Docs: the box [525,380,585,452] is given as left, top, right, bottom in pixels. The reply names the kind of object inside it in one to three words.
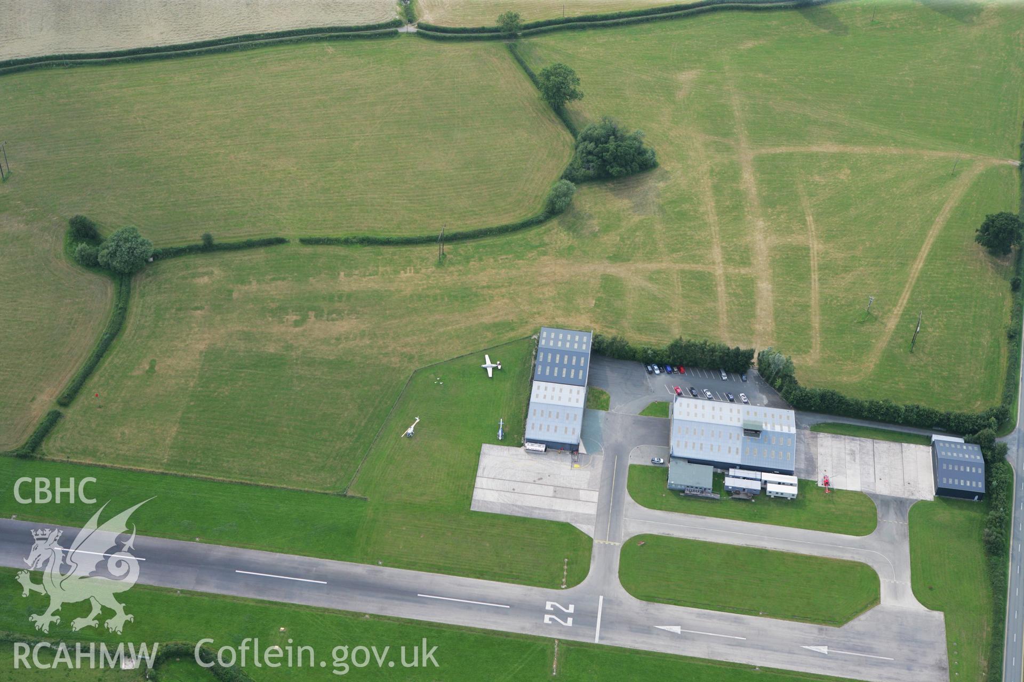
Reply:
hangar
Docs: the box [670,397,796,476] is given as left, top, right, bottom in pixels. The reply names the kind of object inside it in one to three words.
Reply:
hangar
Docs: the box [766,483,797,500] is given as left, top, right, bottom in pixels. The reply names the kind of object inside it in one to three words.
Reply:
building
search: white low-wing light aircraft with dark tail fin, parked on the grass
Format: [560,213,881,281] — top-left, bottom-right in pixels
[481,355,501,377]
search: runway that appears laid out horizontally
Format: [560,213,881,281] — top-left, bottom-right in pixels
[0,519,950,682]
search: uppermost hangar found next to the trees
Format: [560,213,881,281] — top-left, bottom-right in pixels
[534,326,592,386]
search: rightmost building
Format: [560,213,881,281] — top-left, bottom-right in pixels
[932,435,985,500]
